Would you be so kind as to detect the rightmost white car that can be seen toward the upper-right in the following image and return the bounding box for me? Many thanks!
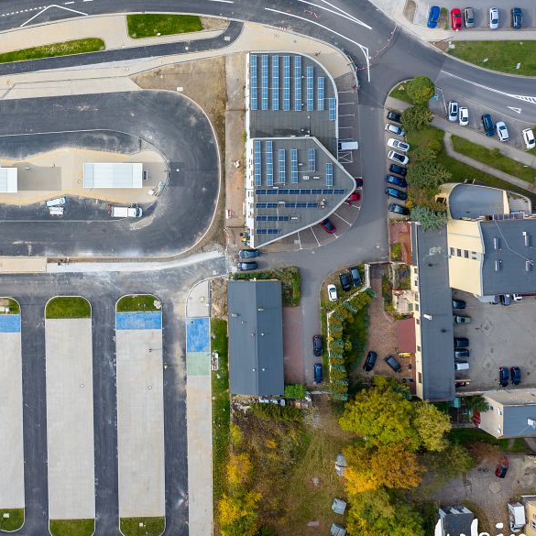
[521,128,535,149]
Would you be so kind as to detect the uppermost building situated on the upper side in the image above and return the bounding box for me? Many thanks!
[242,52,339,160]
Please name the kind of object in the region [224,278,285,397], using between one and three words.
building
